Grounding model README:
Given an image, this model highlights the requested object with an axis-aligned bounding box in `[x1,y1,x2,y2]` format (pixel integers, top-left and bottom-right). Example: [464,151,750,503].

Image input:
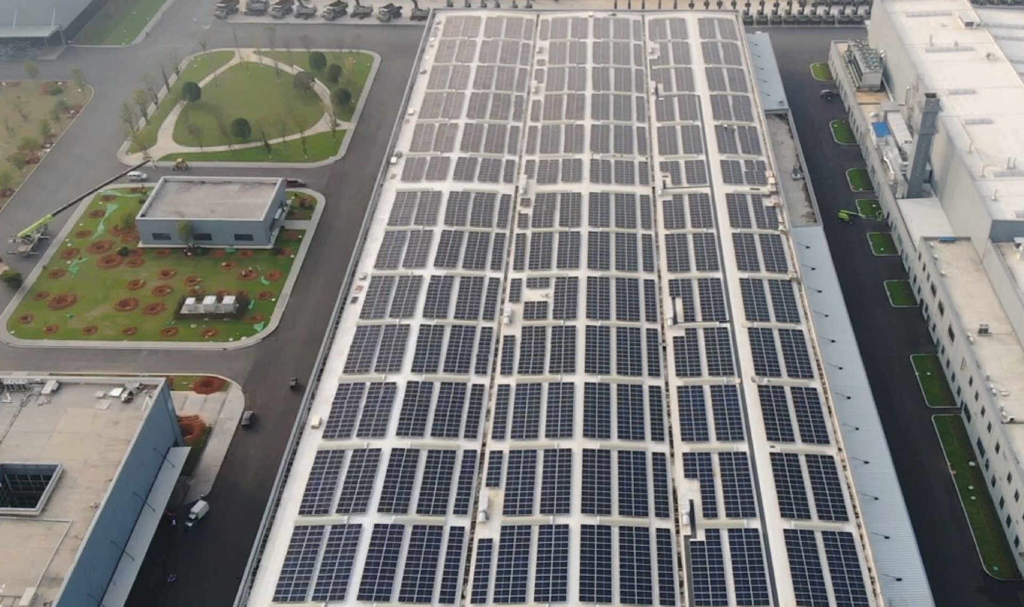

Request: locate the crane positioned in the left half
[7,157,159,256]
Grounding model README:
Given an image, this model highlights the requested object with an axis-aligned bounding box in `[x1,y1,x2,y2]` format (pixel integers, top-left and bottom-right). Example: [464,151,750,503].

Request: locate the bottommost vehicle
[184,499,210,530]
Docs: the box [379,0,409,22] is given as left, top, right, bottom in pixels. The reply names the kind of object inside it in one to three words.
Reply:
truck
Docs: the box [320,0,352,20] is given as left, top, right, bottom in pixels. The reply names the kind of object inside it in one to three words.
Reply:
vehicle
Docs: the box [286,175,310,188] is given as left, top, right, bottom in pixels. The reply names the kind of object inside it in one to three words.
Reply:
vehicle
